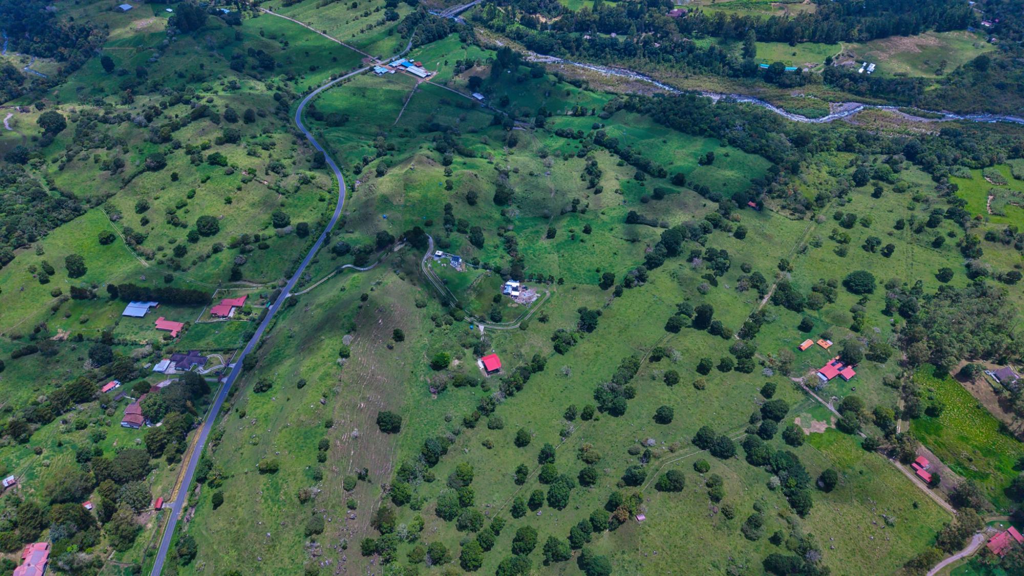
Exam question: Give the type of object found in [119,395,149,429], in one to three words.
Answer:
house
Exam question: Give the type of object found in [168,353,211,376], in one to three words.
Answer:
house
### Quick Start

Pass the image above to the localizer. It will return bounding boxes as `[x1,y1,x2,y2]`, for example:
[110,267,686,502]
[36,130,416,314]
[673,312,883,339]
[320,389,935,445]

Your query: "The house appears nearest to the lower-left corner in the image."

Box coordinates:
[20,543,55,576]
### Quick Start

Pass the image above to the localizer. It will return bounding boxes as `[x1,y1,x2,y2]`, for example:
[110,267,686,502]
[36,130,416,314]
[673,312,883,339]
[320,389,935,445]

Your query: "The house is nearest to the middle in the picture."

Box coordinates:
[500,280,522,302]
